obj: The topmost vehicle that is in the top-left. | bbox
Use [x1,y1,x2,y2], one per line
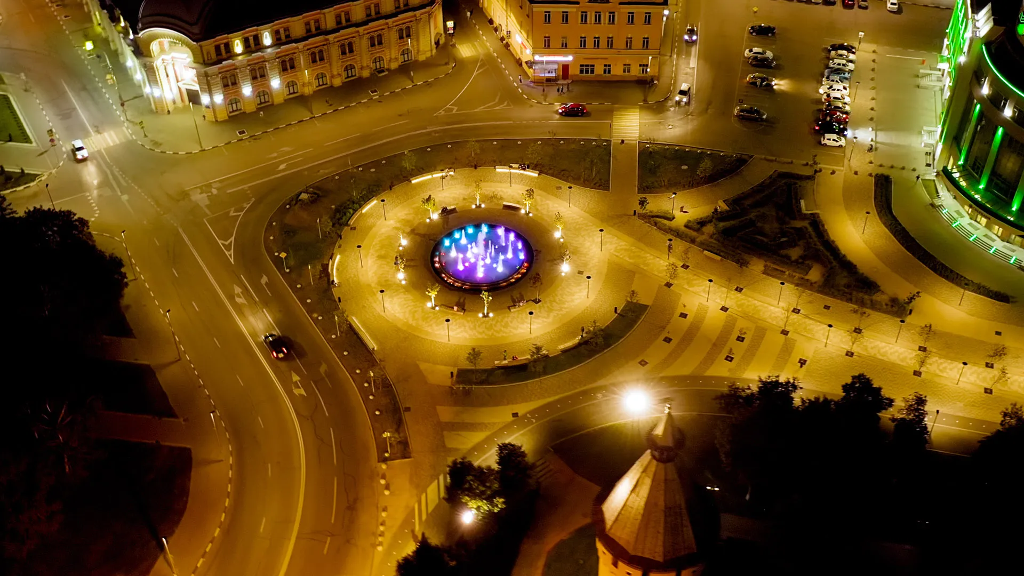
[69,136,88,161]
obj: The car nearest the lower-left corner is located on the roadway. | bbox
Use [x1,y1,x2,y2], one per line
[263,331,288,359]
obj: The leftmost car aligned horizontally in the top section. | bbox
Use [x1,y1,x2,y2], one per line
[559,104,589,117]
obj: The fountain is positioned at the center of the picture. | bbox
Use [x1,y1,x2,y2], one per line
[429,219,534,292]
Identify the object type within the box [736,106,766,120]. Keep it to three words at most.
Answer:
car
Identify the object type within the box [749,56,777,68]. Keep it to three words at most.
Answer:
vehicle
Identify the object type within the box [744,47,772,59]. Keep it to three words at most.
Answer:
vehicle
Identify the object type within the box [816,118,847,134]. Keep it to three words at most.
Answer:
car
